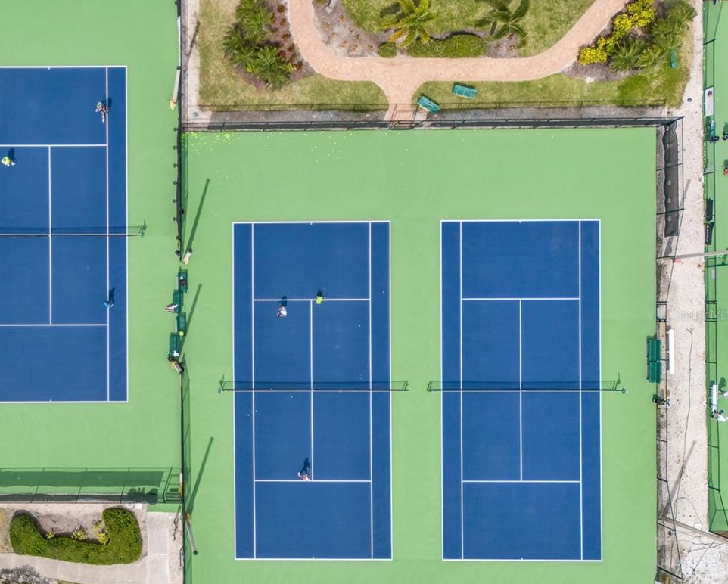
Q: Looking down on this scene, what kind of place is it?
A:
sports ground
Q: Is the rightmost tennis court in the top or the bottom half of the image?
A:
bottom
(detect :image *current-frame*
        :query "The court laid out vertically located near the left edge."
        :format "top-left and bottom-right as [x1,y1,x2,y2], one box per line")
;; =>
[0,65,128,403]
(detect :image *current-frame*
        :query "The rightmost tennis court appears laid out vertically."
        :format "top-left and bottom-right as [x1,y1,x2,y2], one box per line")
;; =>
[441,220,603,560]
